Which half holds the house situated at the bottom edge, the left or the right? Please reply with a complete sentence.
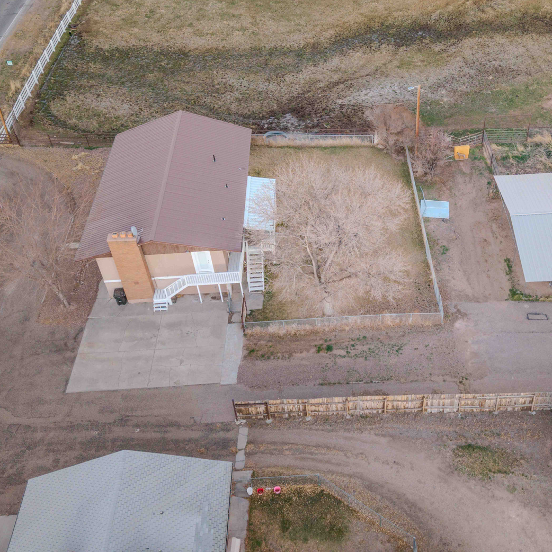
The house situated at the bottom edge appears in the left half of the scene.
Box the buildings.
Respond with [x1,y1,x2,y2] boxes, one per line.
[73,110,253,304]
[4,450,235,552]
[495,174,552,300]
